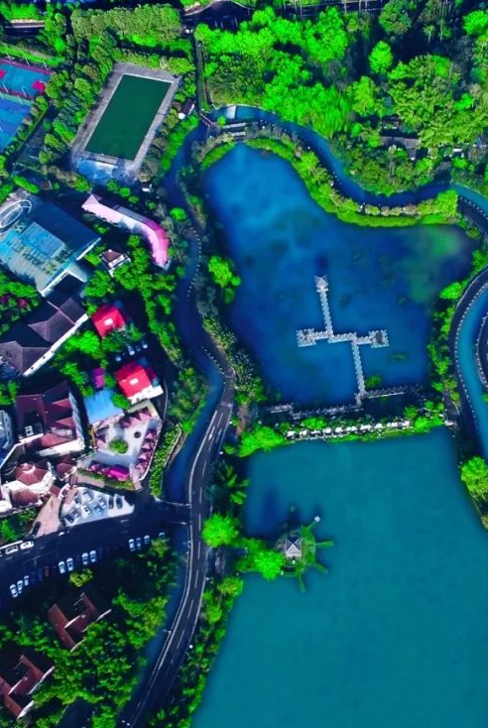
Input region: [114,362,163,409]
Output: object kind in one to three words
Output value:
house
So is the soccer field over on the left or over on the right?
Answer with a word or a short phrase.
left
